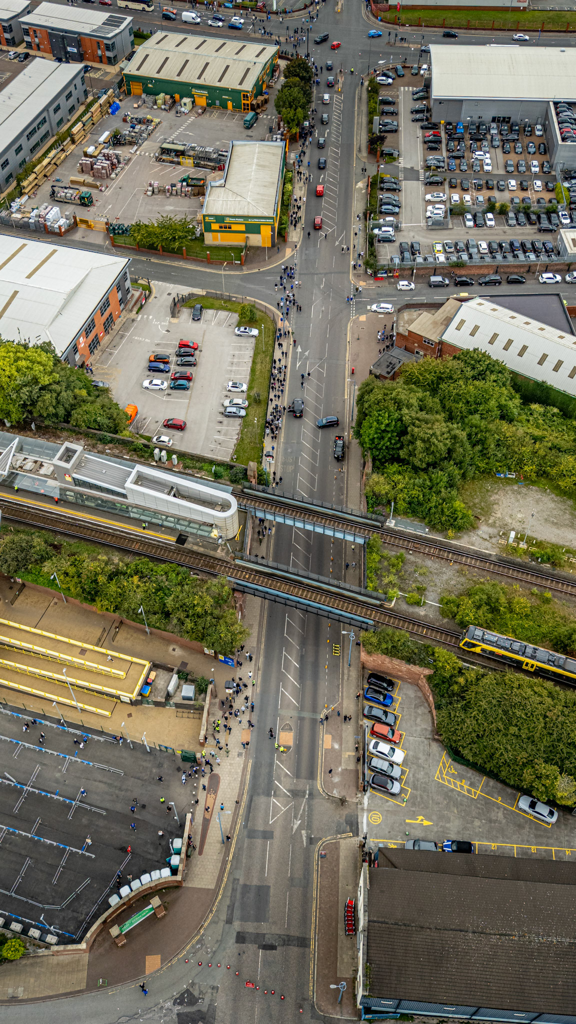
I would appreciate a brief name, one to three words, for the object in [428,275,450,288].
vehicle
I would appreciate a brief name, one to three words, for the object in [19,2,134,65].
building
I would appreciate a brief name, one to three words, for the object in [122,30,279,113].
building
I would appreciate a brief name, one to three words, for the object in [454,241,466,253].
vehicle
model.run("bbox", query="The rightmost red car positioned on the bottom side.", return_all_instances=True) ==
[370,724,400,746]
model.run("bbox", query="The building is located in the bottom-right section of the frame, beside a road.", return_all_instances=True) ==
[360,848,576,1024]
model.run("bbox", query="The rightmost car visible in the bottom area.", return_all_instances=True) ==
[519,799,557,824]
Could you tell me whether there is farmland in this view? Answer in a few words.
No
